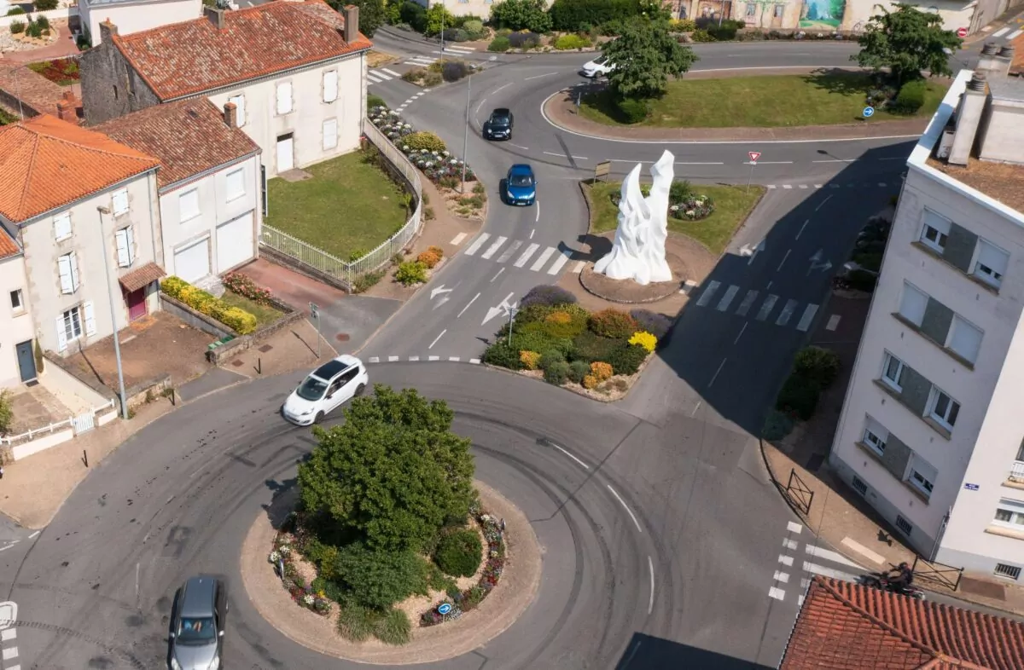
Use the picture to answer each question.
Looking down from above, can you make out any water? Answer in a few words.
No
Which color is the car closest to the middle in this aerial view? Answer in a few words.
blue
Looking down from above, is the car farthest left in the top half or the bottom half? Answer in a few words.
bottom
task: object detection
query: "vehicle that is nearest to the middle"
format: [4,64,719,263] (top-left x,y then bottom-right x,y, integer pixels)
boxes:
[504,159,539,205]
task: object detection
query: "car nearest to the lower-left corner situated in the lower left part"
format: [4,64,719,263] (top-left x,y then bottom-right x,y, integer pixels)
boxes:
[164,575,232,670]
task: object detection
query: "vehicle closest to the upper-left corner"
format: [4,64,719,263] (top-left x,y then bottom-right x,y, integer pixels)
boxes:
[485,101,517,141]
